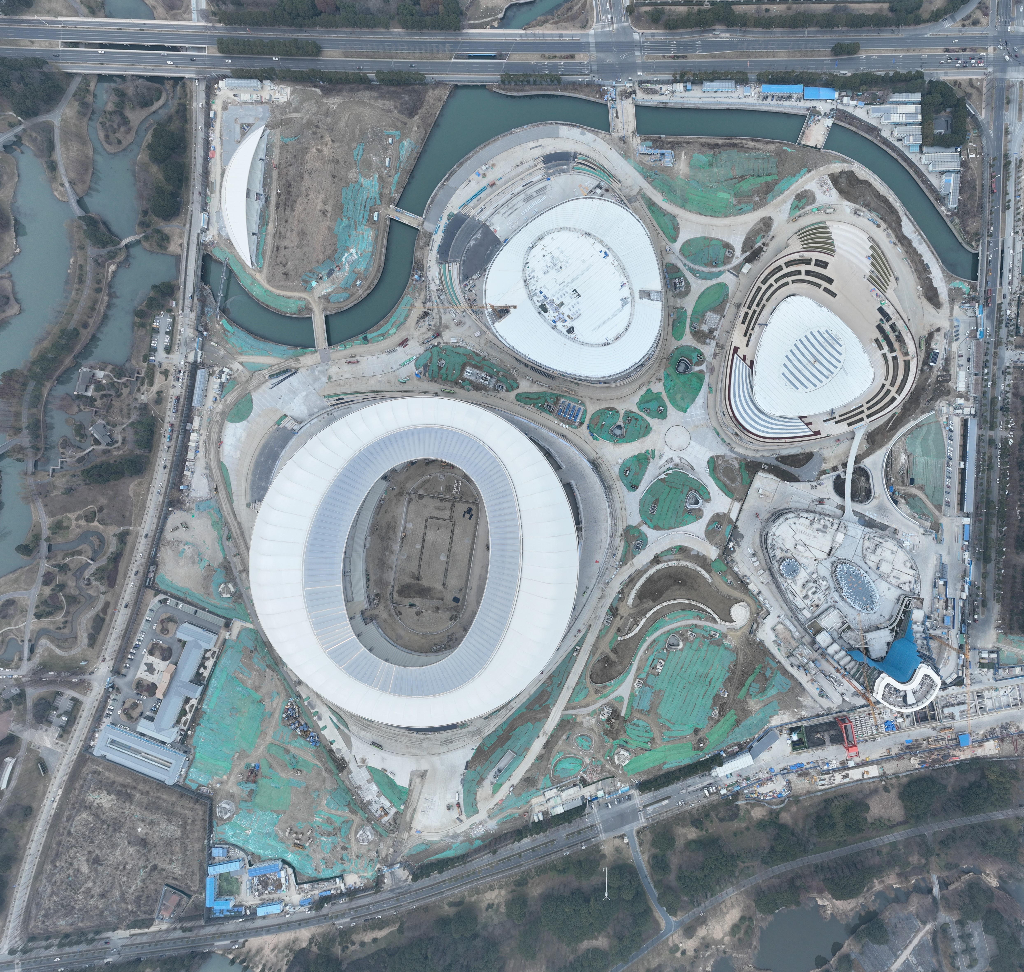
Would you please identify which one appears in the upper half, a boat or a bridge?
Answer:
bridge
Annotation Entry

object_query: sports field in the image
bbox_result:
[367,459,489,653]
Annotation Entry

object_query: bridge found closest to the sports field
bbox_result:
[310,309,328,354]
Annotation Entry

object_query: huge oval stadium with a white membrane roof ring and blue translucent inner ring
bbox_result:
[249,396,579,728]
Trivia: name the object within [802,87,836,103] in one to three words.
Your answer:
shed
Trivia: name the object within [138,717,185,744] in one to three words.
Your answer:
building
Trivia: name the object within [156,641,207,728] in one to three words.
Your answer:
building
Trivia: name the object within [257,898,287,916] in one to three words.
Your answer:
shed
